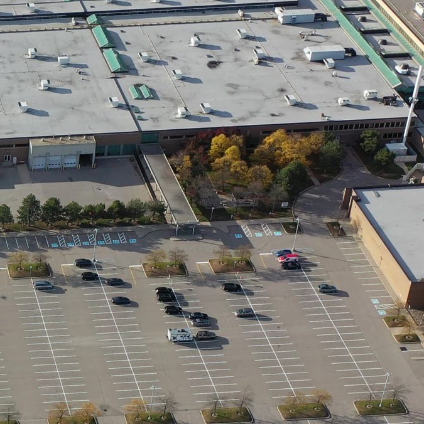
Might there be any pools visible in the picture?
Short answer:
No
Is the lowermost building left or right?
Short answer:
right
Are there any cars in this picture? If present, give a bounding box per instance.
[153,285,173,296]
[111,297,131,305]
[164,305,184,314]
[281,260,302,270]
[74,258,93,267]
[274,249,293,257]
[80,271,99,280]
[157,292,177,303]
[194,330,216,340]
[105,278,125,286]
[317,284,338,293]
[187,312,208,320]
[221,283,241,292]
[234,307,256,318]
[33,280,53,290]
[191,319,211,327]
